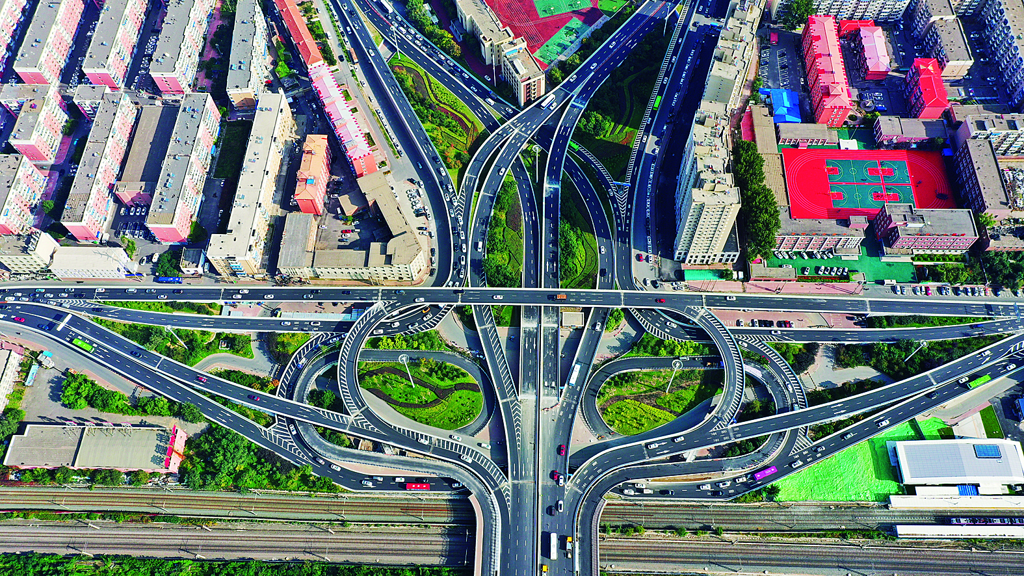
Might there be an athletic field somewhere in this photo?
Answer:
Yes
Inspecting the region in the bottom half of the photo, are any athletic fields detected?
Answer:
No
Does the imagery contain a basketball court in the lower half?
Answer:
No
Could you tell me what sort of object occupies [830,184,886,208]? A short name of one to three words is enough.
basketball court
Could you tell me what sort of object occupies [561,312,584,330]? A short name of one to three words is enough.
shed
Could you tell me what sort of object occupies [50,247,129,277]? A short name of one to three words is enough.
building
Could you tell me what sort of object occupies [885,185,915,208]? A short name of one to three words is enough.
basketball court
